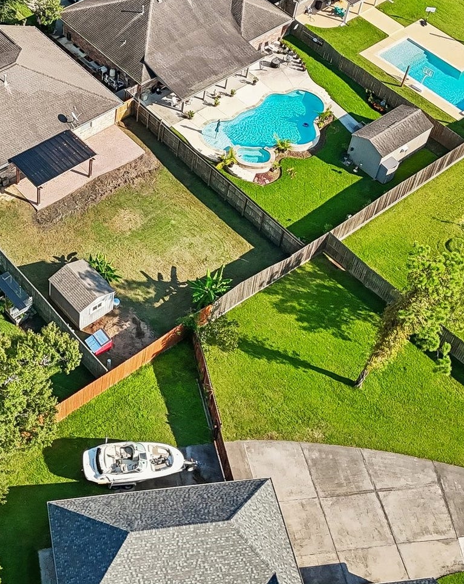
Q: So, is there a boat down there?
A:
Yes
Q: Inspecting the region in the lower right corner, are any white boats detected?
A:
No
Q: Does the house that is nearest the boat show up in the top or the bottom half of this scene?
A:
bottom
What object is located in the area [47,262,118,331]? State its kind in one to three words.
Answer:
shed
